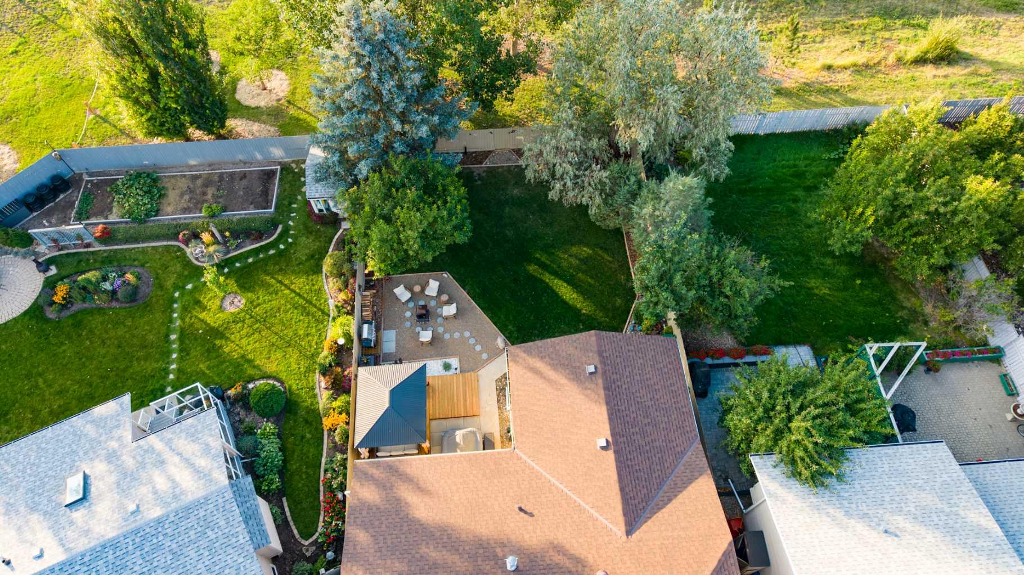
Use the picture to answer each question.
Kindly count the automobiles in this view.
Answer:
0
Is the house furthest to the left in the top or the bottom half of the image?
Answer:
bottom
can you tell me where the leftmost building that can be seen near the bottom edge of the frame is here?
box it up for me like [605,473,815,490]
[0,390,294,575]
